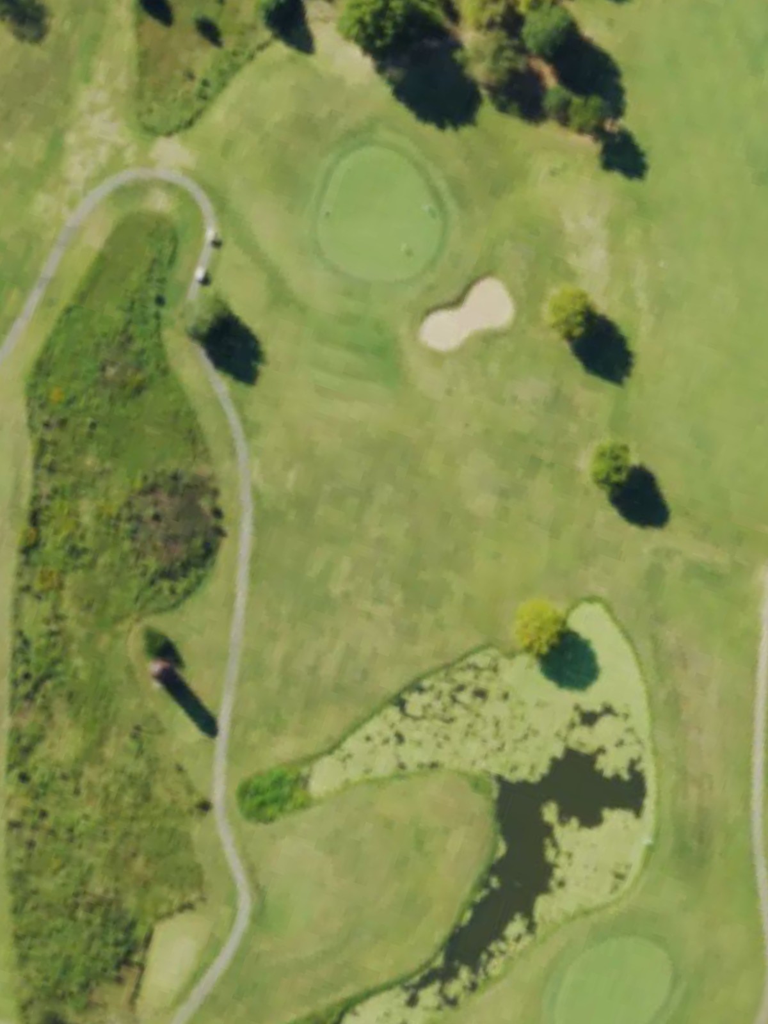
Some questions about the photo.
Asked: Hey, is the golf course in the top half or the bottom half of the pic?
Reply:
top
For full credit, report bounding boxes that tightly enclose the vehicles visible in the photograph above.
[195,267,205,281]
[206,230,214,244]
